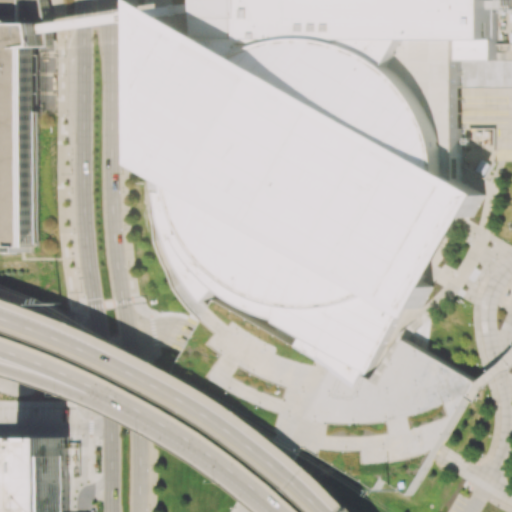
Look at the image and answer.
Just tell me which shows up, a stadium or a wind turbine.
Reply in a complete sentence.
Looking from above, you can make out a stadium.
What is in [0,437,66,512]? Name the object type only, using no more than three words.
building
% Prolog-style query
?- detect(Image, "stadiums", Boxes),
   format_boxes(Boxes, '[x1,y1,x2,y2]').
[117,2,483,386]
